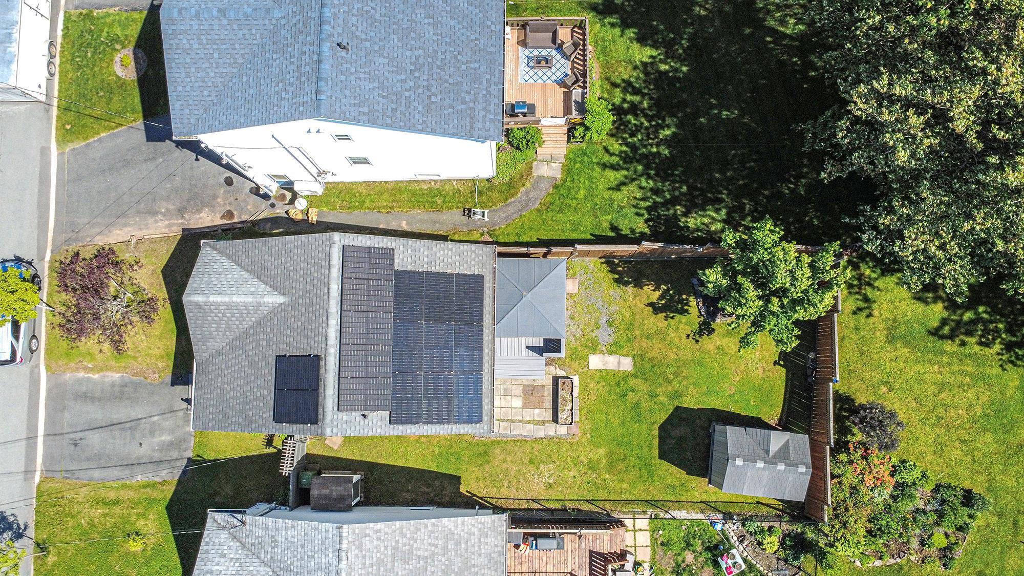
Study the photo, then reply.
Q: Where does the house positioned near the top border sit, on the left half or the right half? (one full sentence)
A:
The house positioned near the top border appears in the left half of the scene.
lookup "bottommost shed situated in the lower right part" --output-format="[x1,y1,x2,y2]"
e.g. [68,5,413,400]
[700,423,812,501]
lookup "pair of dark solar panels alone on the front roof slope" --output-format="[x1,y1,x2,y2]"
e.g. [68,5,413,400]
[274,355,322,424]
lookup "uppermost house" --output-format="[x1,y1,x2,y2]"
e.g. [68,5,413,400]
[154,0,508,192]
